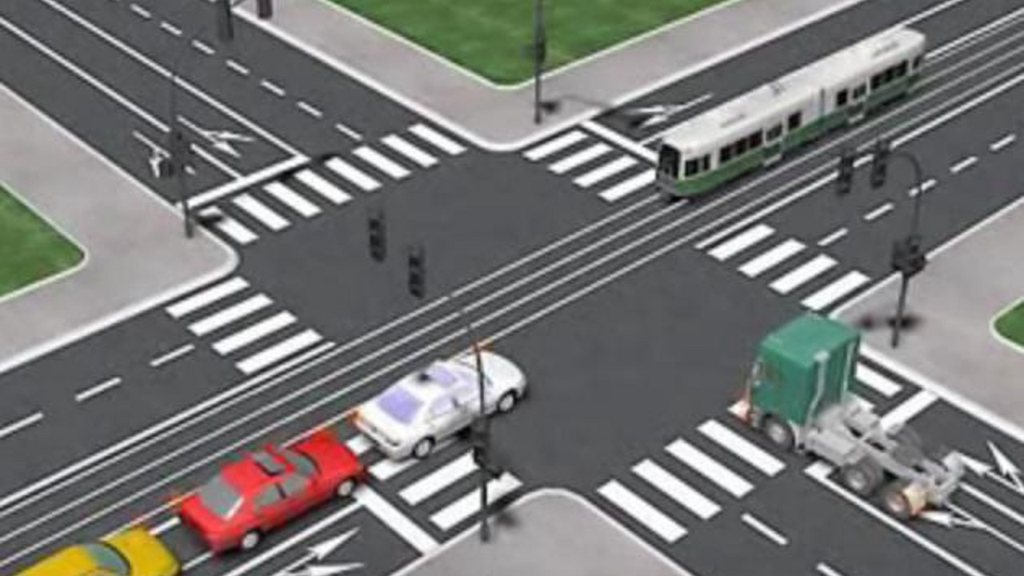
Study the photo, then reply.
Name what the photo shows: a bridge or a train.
train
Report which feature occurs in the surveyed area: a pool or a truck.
truck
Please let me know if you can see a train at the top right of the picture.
Yes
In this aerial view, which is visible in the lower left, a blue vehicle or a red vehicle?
red vehicle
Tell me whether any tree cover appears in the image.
No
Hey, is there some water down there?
No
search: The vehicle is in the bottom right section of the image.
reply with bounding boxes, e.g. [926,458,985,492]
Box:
[748,317,976,523]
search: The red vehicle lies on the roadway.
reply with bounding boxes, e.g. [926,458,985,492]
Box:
[178,433,366,554]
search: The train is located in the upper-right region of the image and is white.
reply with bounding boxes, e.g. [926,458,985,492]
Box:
[653,30,922,198]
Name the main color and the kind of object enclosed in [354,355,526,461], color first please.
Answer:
white car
